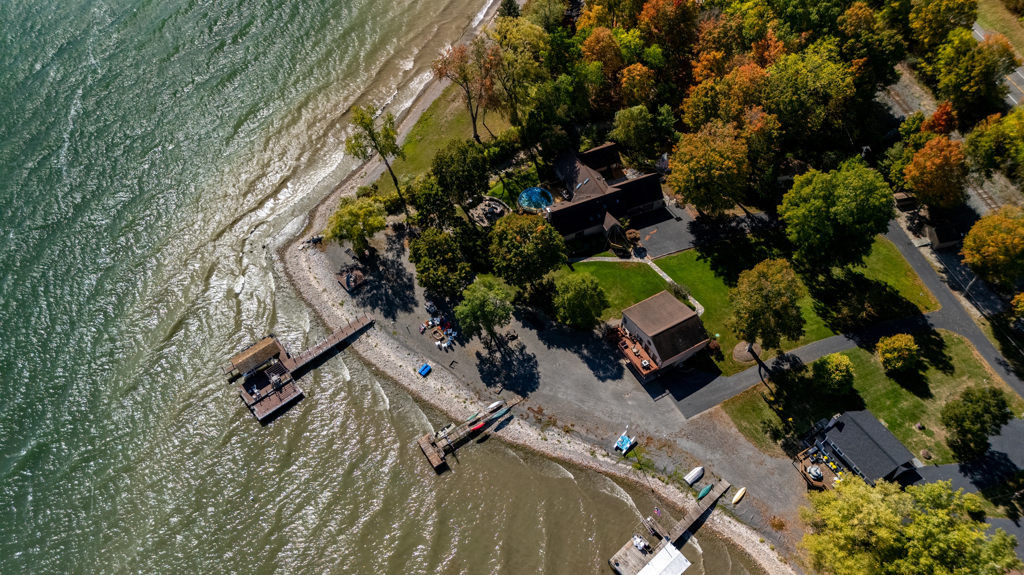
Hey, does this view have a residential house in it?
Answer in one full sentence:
Yes, you can see a residential house in this photo.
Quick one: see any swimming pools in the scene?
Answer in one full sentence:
Yes, the frame does contain a swimming pool.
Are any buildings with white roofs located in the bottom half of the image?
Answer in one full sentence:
Yes, a building with a white roof can be seen in the bottom half of the image.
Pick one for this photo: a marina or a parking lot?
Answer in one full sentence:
It's a marina.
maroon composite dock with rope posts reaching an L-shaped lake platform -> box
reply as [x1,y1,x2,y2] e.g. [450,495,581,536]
[220,309,376,423]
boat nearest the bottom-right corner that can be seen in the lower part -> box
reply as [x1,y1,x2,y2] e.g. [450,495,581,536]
[731,486,747,505]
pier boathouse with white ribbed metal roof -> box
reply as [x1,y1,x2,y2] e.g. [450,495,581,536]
[638,542,691,575]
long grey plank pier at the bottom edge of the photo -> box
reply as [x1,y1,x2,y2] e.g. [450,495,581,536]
[608,480,730,575]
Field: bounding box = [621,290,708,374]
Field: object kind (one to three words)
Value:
building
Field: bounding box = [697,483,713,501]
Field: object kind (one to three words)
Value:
boat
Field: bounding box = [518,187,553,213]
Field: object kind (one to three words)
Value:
swimming pool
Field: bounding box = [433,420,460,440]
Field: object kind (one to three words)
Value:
boat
